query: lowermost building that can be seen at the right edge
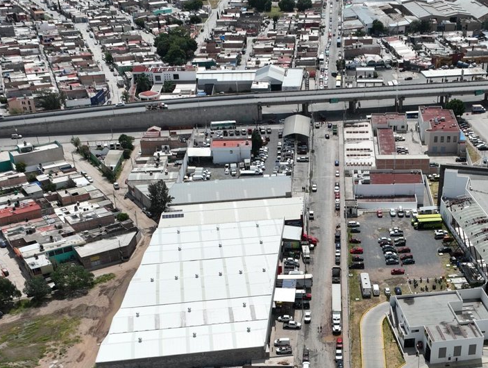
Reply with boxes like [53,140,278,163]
[424,323,484,365]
